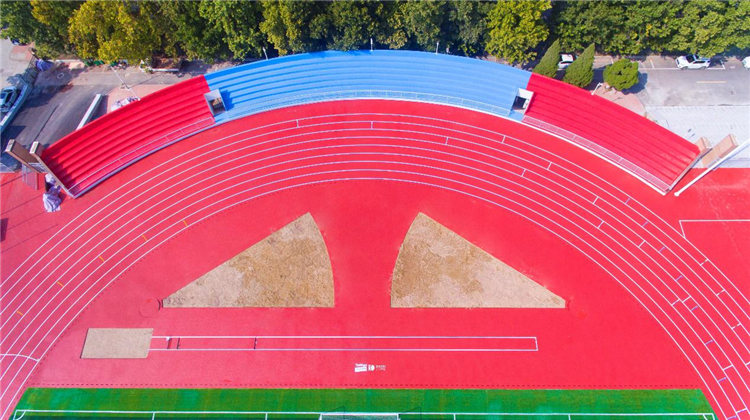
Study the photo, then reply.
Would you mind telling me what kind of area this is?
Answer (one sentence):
This looks like a sports ground.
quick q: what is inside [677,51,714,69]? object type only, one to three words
car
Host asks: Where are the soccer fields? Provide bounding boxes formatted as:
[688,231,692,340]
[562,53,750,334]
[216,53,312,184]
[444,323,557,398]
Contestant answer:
[9,387,719,420]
